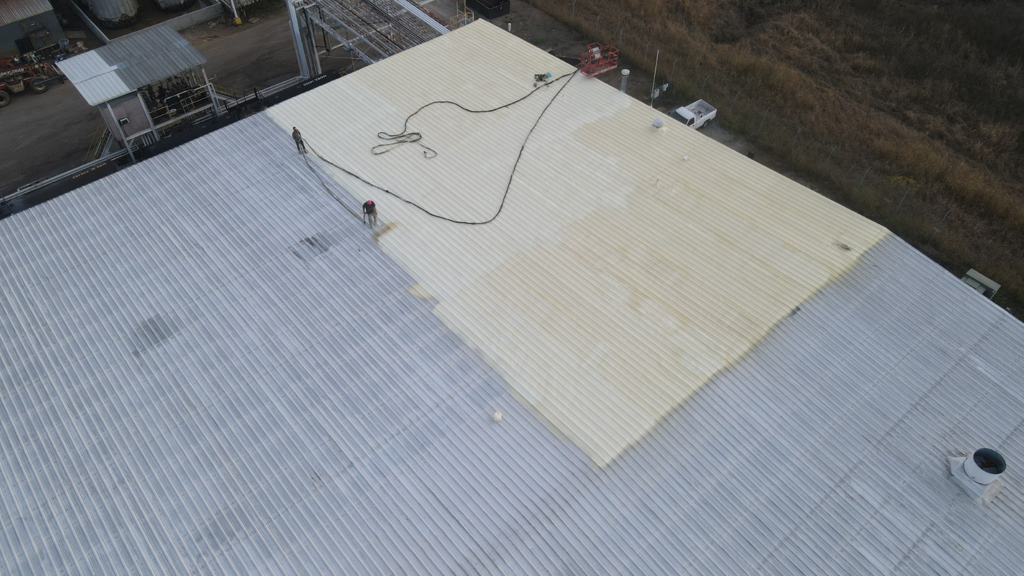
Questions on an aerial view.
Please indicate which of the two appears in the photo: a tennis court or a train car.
train car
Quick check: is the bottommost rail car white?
No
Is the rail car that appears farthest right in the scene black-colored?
Yes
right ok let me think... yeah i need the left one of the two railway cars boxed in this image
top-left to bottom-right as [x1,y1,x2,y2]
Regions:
[0,158,128,219]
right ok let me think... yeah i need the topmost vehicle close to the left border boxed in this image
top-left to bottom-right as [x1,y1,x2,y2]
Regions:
[0,55,65,107]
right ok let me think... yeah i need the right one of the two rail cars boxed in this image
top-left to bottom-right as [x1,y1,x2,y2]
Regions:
[146,69,340,157]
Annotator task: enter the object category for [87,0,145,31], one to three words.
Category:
storage tank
